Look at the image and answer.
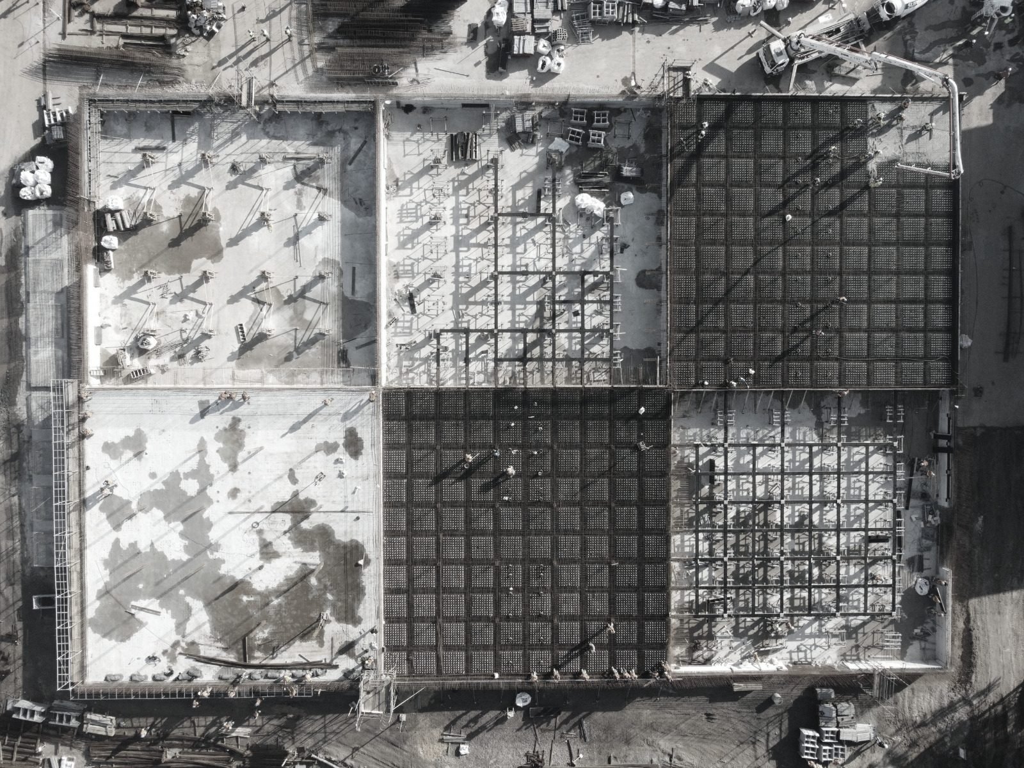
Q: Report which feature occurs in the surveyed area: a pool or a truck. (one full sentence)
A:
It is a truck that can be seen here.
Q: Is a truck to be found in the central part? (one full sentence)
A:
No, no truck can be made out in the central part.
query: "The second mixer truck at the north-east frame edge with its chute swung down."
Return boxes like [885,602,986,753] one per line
[966,0,1015,45]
